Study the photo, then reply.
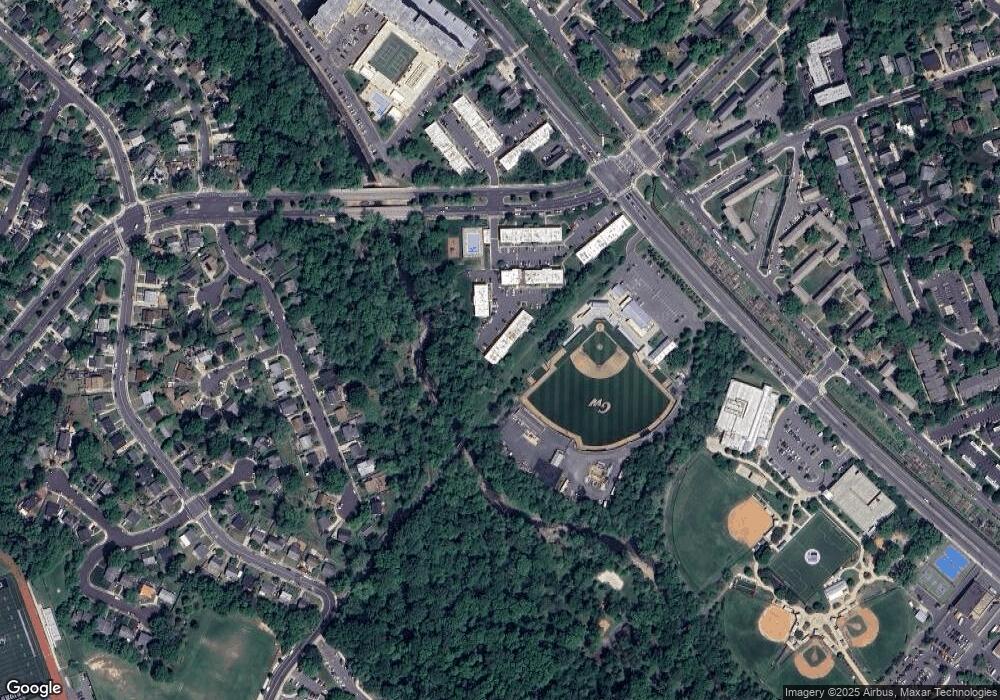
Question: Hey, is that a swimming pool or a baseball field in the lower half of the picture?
baseball field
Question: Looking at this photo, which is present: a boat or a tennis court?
tennis court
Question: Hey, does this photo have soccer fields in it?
Yes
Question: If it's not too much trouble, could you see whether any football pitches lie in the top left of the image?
No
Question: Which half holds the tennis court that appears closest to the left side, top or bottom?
top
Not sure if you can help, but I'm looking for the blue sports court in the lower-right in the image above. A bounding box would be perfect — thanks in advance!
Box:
[930,546,971,586]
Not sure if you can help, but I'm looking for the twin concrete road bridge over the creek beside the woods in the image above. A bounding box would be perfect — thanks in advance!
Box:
[334,188,422,220]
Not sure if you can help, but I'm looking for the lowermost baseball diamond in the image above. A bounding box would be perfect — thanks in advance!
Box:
[771,635,865,700]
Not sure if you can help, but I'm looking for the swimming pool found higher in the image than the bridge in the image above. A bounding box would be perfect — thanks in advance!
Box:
[360,88,394,120]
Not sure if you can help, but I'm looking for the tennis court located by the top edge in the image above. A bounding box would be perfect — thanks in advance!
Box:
[369,33,417,79]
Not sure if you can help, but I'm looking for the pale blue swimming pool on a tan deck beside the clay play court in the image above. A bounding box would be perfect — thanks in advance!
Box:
[463,227,483,257]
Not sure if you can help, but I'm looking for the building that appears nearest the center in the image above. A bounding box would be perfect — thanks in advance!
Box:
[486,310,533,364]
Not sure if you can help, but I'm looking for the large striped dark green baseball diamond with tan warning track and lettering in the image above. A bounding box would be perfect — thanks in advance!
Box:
[522,319,740,452]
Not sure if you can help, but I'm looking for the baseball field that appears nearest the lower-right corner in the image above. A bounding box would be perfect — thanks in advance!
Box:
[832,589,920,679]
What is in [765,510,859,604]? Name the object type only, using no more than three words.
soccer field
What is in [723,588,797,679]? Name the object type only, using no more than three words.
baseball field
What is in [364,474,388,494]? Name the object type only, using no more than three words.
house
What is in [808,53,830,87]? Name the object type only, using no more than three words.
building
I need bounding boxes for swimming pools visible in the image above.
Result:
[360,88,394,120]
[463,227,483,257]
